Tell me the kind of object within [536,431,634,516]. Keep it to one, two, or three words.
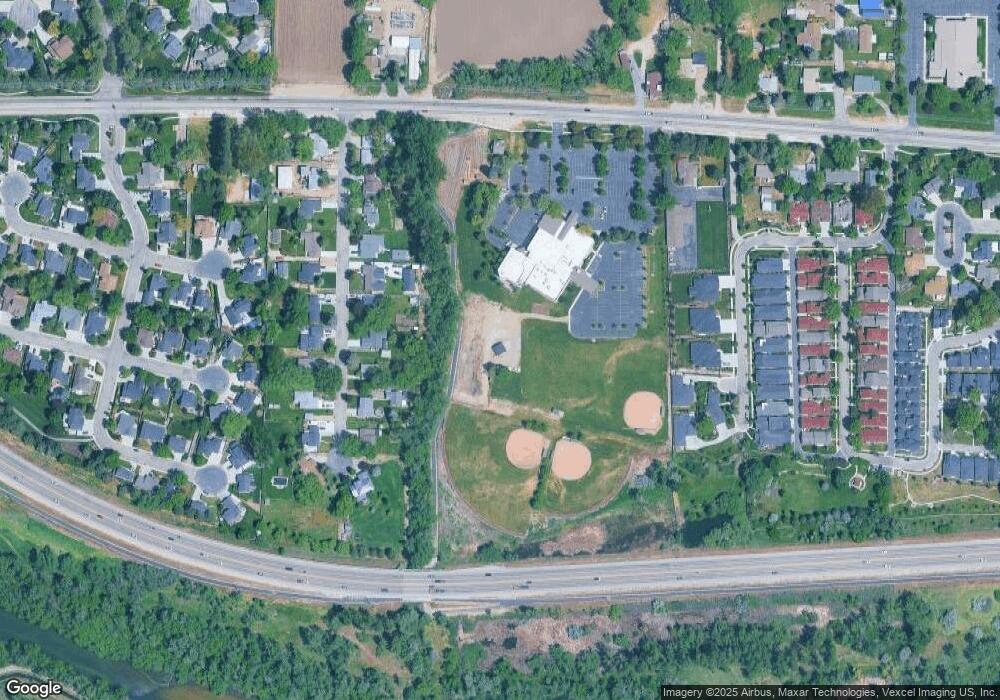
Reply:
baseball field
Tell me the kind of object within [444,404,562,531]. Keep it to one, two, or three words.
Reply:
baseball field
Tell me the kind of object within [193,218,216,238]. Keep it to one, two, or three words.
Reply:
house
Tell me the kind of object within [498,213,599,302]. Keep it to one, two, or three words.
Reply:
building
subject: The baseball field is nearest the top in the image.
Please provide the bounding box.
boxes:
[581,350,665,438]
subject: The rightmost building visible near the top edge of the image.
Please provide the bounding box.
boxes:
[930,17,986,88]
